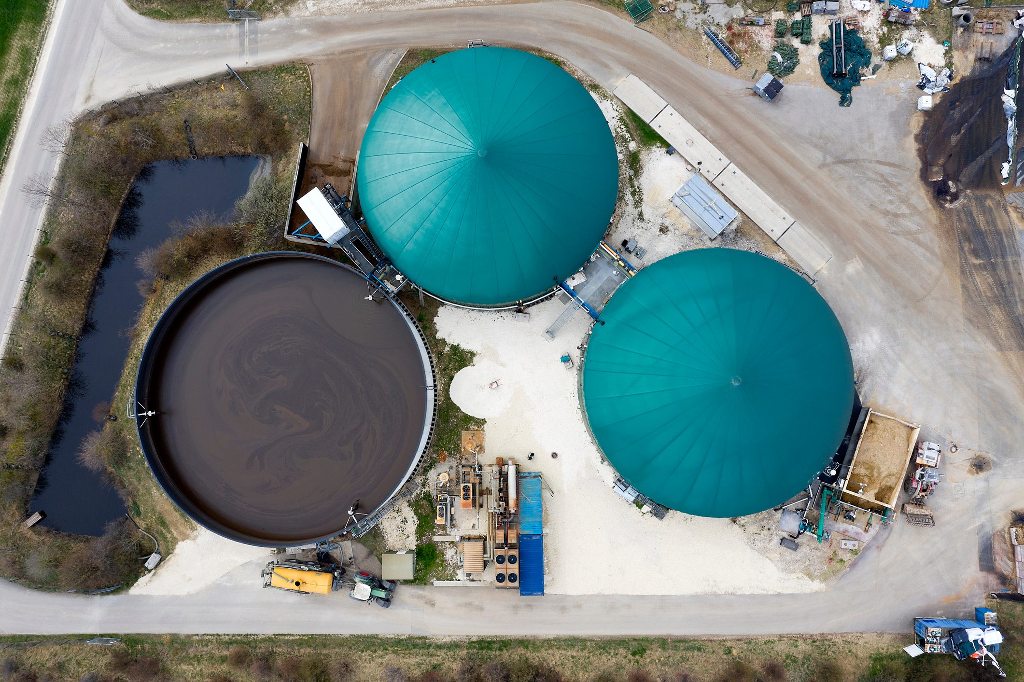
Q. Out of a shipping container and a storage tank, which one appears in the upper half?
storage tank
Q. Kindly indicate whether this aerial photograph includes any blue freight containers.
Yes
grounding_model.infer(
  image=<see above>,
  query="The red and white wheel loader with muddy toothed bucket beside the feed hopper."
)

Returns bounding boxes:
[902,439,946,522]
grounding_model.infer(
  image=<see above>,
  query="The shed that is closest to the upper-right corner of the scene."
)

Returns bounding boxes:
[671,173,738,237]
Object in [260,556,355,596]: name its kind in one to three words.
trailer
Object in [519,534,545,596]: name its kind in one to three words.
shipping container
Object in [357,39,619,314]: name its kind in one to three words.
storage tank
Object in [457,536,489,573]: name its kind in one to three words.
building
